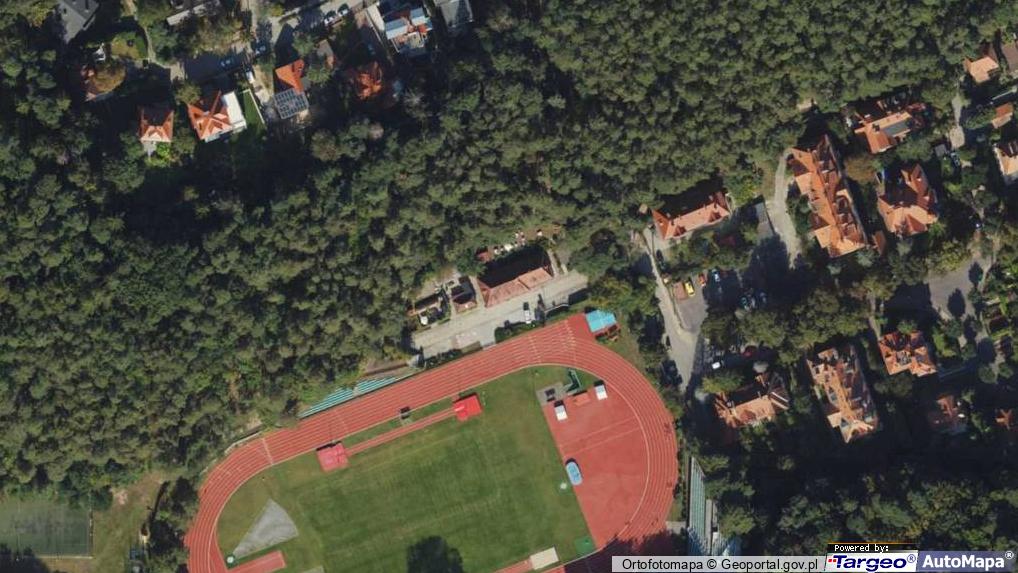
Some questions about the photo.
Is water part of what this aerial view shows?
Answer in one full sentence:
No, there is no water in the image.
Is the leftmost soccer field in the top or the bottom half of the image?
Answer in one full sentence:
Seen from above, the leftmost soccer field lies in the bottom half of the view.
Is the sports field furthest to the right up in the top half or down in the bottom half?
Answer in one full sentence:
The sports field furthest to the right is in the bottom half of the image.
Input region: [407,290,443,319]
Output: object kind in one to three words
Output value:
shed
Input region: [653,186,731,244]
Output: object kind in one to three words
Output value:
house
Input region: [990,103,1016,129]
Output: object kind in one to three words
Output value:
building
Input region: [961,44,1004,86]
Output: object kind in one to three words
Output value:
house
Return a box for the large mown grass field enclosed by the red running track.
[211,364,601,573]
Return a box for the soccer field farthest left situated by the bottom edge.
[0,499,90,556]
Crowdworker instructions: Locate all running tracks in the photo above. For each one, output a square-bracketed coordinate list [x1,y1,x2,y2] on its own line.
[182,312,680,573]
